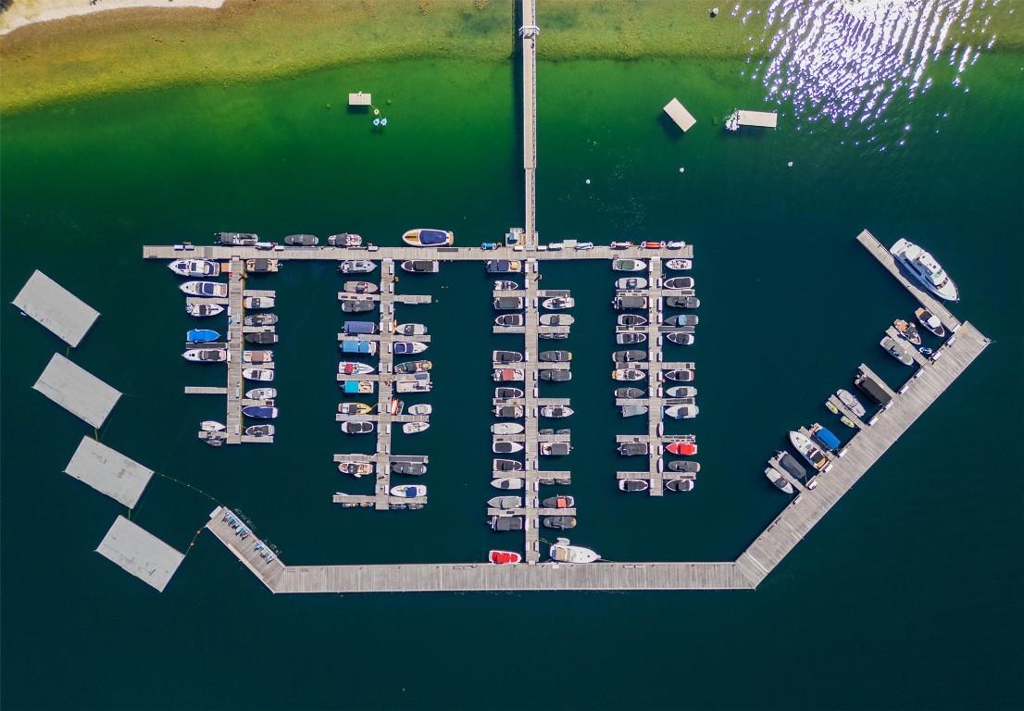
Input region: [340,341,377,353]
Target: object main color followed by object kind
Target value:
blue boat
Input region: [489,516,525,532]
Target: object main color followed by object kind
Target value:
gray boat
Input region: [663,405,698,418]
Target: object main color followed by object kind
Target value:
white boat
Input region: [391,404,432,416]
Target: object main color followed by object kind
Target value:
white boat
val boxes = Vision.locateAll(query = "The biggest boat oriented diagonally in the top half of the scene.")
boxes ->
[889,238,961,301]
